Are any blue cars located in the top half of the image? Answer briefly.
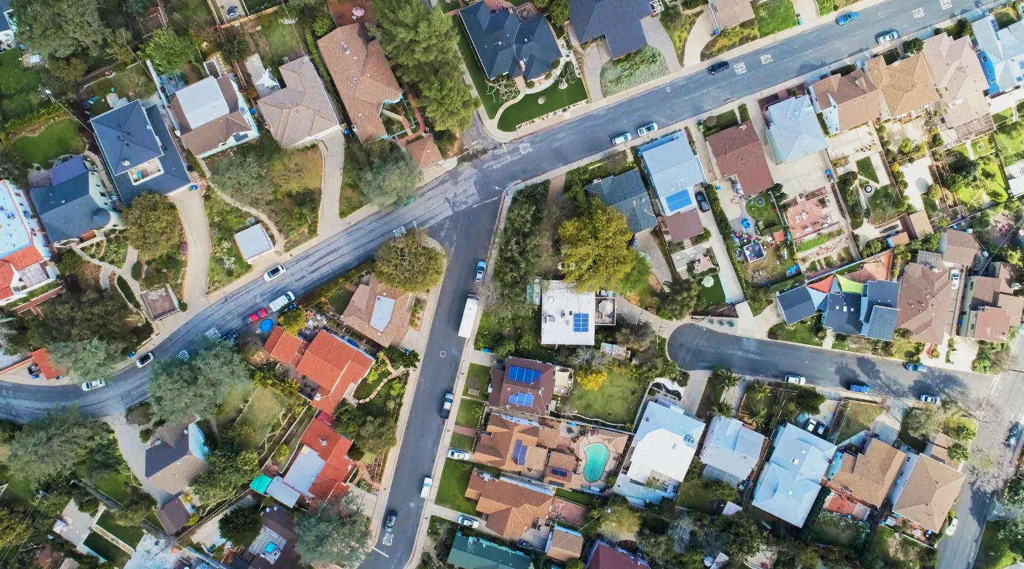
Yes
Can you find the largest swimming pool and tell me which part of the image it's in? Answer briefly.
bottom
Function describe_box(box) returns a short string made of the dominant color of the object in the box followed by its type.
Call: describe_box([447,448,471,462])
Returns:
white car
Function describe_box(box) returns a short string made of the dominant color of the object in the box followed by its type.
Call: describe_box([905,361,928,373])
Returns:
blue vehicle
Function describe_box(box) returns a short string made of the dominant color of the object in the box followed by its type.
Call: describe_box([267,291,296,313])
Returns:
white car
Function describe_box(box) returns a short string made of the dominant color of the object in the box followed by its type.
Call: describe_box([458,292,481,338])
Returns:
white camper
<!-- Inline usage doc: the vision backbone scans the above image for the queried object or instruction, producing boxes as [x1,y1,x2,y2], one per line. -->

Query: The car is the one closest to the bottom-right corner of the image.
[941,515,960,538]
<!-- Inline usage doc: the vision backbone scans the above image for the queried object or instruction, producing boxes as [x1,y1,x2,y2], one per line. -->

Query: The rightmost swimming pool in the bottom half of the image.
[582,442,610,484]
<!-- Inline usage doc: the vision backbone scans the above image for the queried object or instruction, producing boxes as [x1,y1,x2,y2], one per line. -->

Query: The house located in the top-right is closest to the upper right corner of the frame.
[954,18,1024,96]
